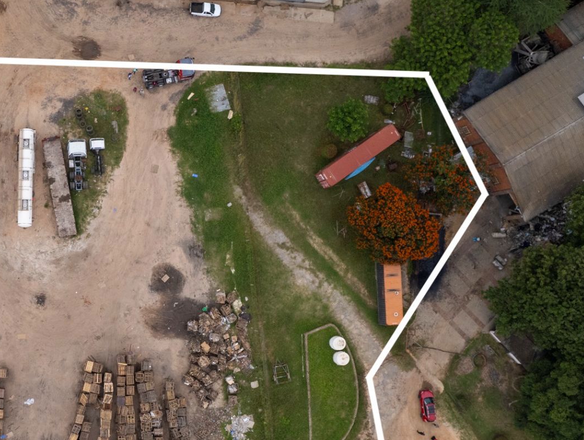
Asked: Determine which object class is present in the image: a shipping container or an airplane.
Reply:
shipping container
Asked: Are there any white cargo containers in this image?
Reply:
No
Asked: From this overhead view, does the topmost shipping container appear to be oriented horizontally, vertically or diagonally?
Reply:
diagonally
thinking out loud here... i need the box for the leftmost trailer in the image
[18,128,36,229]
